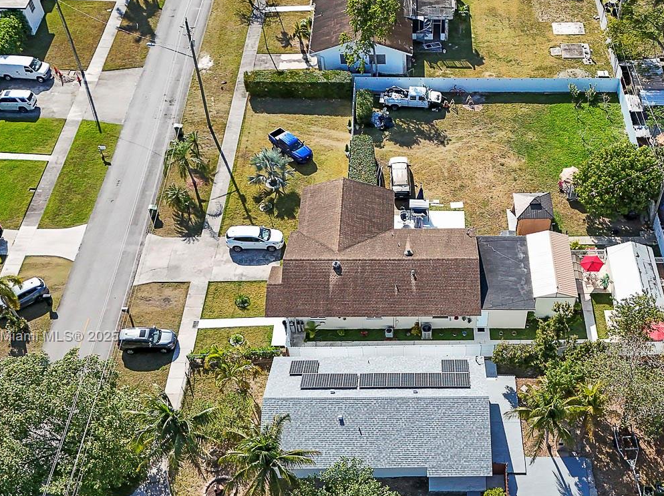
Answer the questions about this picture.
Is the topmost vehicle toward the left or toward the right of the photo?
left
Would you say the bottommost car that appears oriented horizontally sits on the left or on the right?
left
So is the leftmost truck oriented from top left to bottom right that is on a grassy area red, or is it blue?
blue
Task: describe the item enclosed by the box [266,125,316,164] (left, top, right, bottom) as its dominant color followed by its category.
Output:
blue truck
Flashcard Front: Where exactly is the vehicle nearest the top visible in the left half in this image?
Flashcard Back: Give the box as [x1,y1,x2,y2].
[0,51,57,84]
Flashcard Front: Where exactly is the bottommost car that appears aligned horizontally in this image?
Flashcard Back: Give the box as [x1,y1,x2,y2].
[109,323,184,355]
